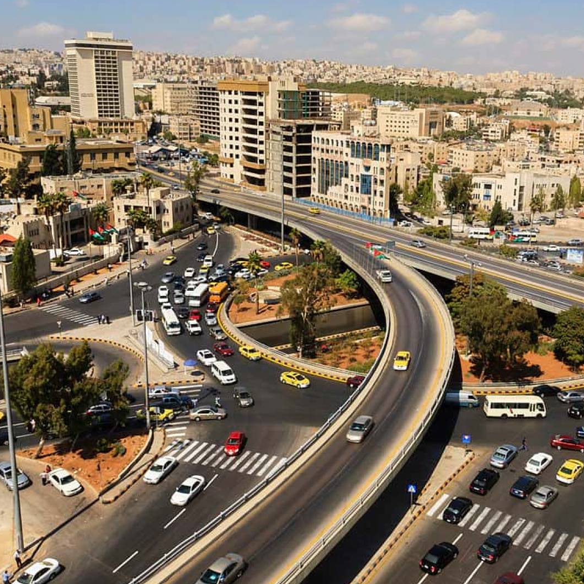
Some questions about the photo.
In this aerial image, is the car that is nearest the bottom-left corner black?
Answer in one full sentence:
No, from above the car that is nearest the bottom-left corner looks white.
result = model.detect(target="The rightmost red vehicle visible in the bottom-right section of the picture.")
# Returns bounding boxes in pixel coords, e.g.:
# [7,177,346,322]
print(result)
[549,435,584,452]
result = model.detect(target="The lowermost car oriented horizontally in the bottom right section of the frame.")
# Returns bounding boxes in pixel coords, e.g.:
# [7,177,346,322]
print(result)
[490,566,529,584]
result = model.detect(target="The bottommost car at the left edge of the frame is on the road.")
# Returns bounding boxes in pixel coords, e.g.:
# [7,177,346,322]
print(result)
[10,557,63,584]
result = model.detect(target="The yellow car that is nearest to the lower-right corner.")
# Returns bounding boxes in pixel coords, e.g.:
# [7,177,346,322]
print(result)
[556,462,584,486]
